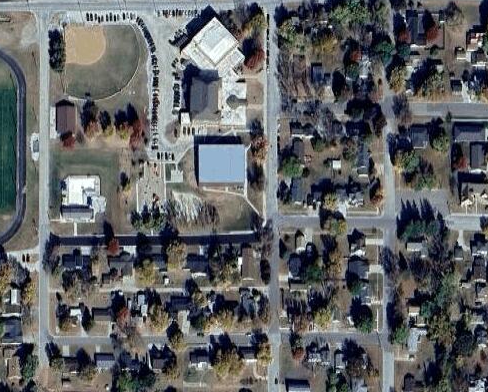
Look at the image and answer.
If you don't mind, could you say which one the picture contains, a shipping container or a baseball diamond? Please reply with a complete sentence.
The one in the frame is a baseball diamond.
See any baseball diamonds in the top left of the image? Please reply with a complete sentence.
Yes, looking in the top left of the image, one can make out a baseball diamond.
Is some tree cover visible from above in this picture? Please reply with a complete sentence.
Yes, some tree cover is visible.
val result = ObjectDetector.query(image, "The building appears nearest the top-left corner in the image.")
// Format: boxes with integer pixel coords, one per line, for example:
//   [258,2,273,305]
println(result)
[57,104,76,135]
